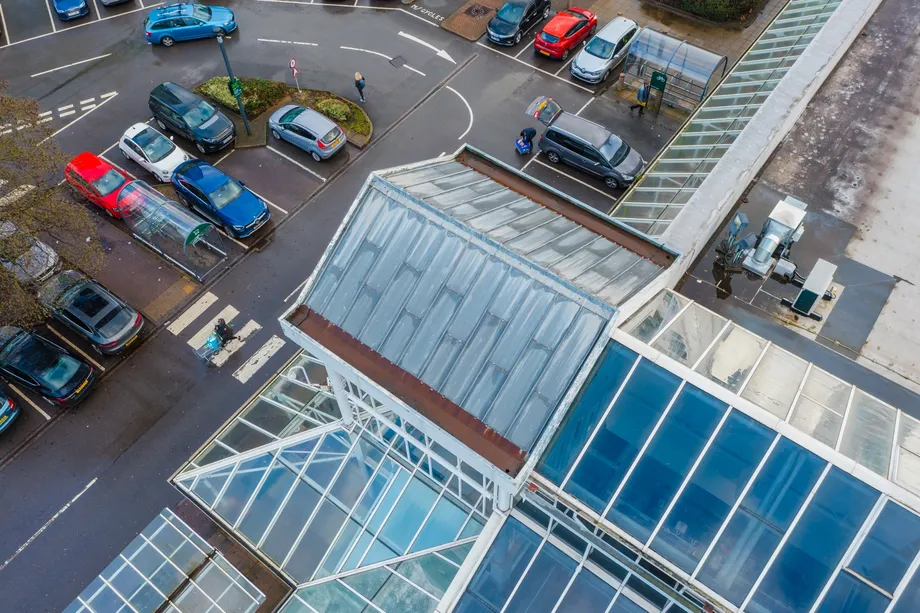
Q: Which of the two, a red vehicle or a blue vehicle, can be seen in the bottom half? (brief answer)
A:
blue vehicle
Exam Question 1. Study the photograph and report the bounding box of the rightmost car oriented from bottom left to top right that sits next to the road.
[571,13,642,84]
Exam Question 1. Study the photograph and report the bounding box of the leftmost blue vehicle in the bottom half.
[0,387,21,432]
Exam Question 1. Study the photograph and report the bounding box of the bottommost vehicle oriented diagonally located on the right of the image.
[527,99,649,189]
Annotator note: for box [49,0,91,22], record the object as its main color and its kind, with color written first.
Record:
blue car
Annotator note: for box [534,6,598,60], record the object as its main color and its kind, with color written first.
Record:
red car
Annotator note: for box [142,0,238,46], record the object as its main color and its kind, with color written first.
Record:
blue car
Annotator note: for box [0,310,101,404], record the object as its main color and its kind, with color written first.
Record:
black car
